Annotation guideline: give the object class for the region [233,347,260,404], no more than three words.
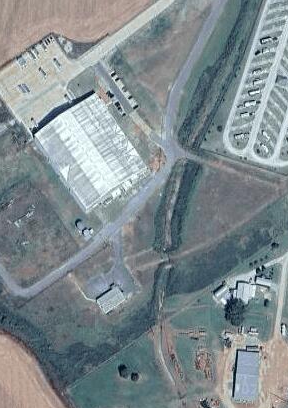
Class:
barn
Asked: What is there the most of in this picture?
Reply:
grass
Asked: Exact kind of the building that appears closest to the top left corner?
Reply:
warehouse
